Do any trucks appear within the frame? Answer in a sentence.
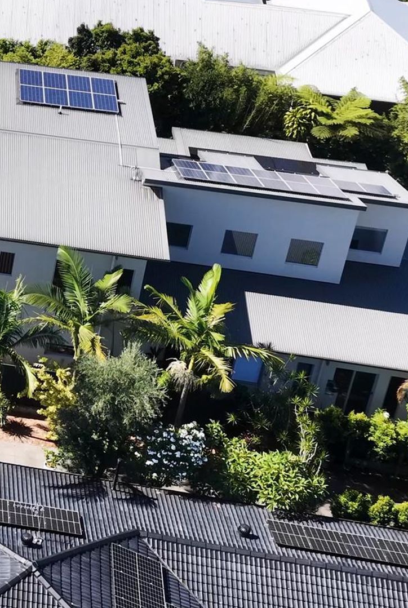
No, there is no truck in the image.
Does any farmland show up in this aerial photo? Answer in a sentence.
No, farmland can't be seen anywhere here.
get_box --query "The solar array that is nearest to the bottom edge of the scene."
[111,543,166,608]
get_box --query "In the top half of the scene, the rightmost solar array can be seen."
[361,183,397,198]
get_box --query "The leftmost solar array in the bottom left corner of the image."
[0,500,84,537]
